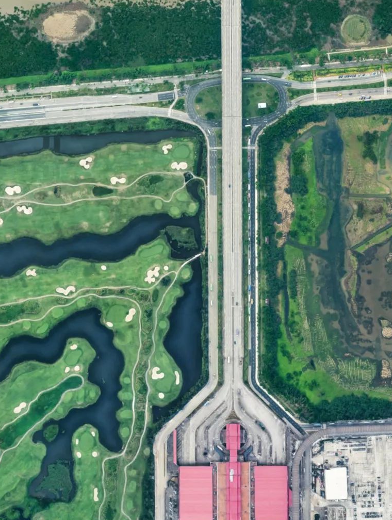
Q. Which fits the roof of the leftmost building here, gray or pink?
pink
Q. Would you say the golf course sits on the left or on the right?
left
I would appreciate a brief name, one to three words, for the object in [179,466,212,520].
building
